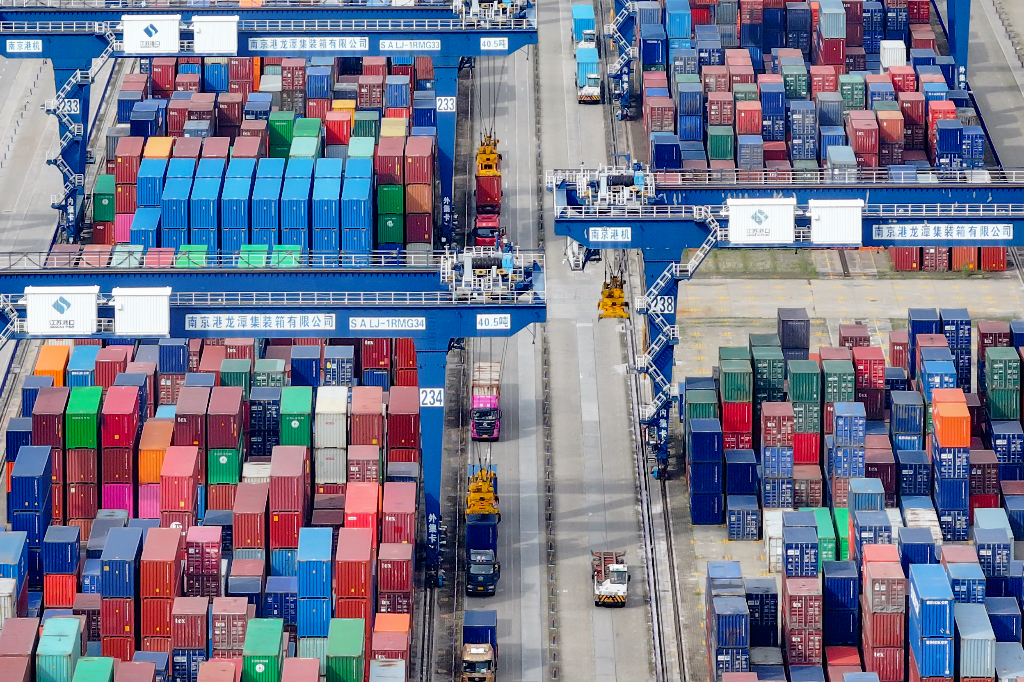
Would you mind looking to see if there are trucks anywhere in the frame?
Yes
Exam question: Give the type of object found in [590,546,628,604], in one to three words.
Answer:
work vehicle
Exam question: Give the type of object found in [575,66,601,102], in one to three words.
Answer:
work vehicle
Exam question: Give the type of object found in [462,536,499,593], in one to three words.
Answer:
truck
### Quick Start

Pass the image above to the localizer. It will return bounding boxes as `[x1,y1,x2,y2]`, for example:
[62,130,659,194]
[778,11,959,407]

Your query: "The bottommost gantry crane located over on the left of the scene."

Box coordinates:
[0,229,548,589]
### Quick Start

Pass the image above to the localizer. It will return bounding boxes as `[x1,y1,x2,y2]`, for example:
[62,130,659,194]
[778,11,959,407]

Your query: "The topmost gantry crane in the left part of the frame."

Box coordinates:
[0,0,543,253]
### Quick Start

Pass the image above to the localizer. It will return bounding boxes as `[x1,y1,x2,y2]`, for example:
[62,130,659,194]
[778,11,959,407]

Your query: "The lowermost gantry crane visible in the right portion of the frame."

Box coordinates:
[554,146,1024,482]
